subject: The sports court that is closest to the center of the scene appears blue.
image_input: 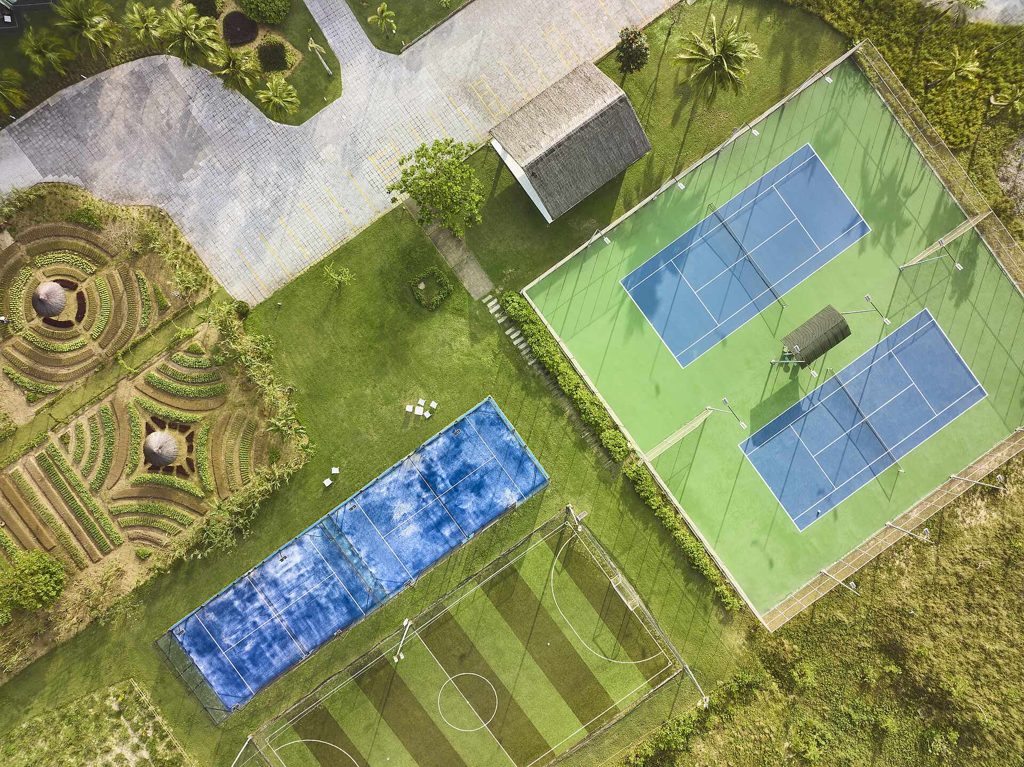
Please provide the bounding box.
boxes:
[324,396,551,603]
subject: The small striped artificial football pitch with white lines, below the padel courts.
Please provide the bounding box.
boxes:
[251,505,684,767]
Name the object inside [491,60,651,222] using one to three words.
building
